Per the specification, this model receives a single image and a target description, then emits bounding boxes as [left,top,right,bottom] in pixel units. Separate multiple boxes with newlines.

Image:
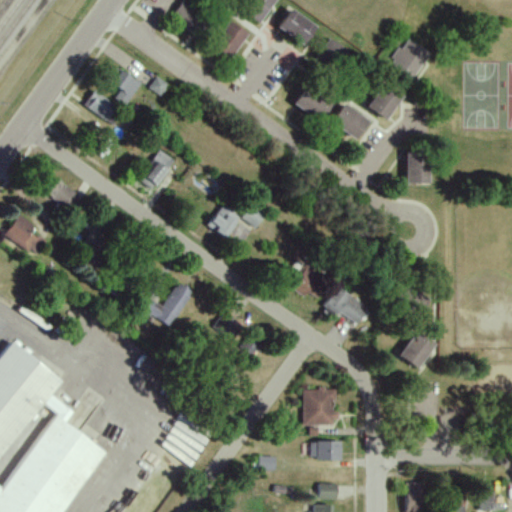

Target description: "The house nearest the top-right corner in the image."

[394,38,430,75]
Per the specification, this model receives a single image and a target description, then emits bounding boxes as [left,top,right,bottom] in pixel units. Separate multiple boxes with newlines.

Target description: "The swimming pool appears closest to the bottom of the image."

[192,174,218,196]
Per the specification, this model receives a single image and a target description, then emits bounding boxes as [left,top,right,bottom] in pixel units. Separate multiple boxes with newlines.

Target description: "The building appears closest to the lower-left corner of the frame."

[0,336,106,512]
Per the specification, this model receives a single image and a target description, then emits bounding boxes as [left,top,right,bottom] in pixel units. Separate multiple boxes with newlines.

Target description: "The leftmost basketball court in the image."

[463,62,500,130]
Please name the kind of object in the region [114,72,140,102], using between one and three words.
house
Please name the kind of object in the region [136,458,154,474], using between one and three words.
vehicle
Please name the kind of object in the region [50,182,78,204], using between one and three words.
house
